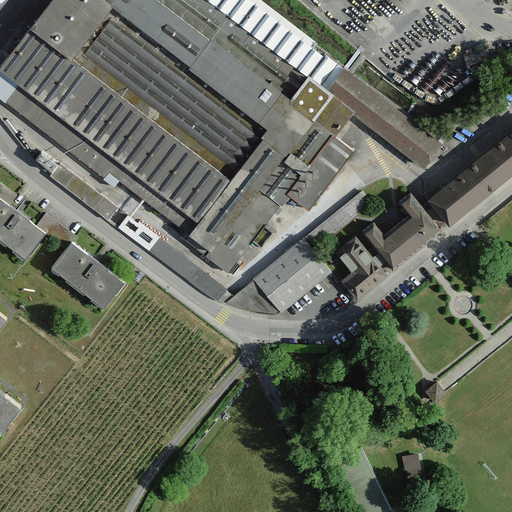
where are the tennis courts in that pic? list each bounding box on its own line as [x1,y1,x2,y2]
[336,446,392,512]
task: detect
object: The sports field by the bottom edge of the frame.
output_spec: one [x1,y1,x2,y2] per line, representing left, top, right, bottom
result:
[421,343,512,512]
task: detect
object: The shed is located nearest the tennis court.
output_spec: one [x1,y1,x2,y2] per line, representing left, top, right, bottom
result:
[402,454,421,478]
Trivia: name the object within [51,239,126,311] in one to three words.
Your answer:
building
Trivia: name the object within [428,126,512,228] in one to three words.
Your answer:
building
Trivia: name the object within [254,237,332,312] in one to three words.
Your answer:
shed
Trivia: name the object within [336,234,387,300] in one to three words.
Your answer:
house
